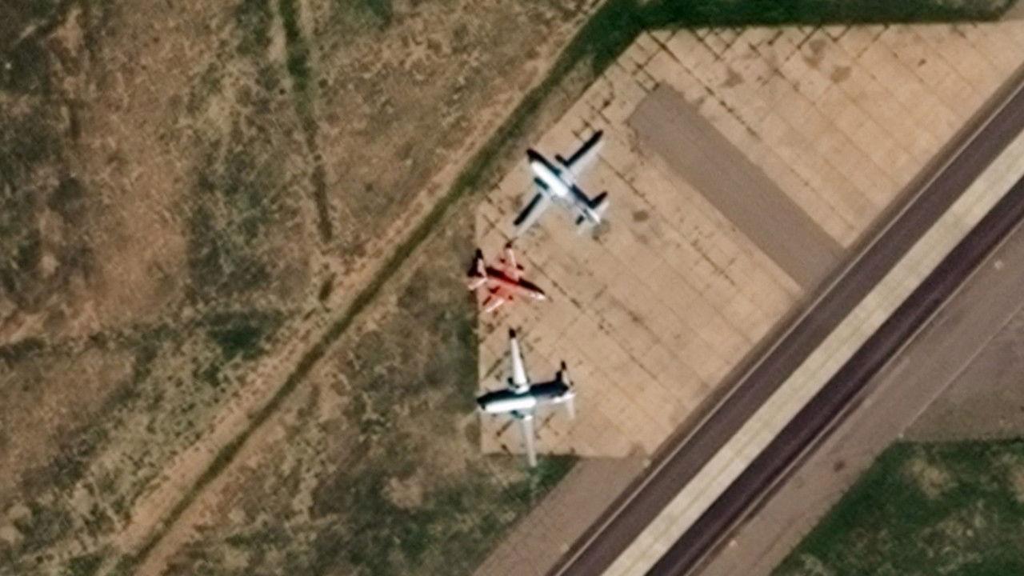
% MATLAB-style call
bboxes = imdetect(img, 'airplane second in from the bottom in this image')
[469,250,546,314]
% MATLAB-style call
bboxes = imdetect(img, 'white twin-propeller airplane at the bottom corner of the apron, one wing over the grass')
[482,339,575,464]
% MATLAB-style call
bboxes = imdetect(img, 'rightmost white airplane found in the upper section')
[517,141,607,235]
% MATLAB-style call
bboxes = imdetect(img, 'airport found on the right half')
[469,0,1024,576]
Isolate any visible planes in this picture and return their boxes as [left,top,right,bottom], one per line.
[517,141,607,235]
[482,339,575,464]
[469,250,546,314]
